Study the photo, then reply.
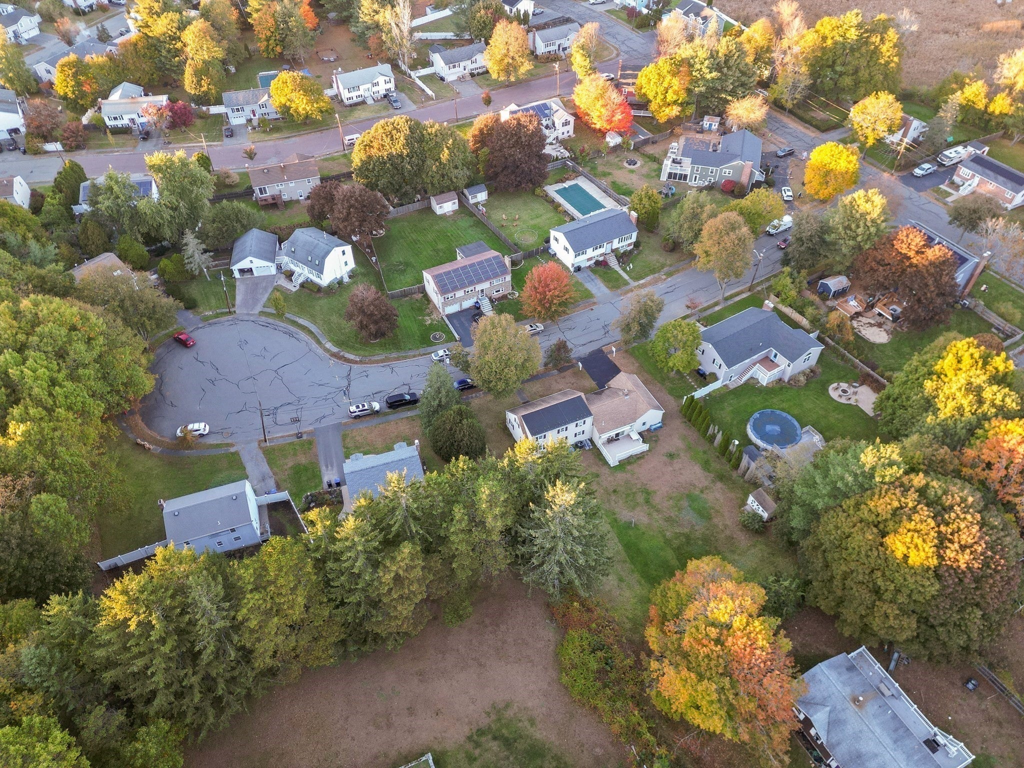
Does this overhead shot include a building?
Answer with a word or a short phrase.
Yes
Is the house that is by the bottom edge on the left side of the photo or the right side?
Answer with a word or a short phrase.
right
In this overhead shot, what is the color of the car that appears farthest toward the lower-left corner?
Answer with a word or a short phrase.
white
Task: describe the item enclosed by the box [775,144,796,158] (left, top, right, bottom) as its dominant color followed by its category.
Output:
gray car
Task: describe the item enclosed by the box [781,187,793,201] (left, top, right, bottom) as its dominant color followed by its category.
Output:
white vehicle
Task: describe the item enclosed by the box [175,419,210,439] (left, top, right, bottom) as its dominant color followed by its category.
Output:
white car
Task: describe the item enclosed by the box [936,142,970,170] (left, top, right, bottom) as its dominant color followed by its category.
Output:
white camper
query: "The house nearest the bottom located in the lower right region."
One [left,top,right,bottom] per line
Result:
[802,644,980,768]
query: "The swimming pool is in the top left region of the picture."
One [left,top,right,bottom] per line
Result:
[257,70,282,87]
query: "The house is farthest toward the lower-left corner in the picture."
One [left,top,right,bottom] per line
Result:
[155,480,272,555]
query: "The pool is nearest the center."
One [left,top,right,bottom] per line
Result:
[553,182,607,216]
